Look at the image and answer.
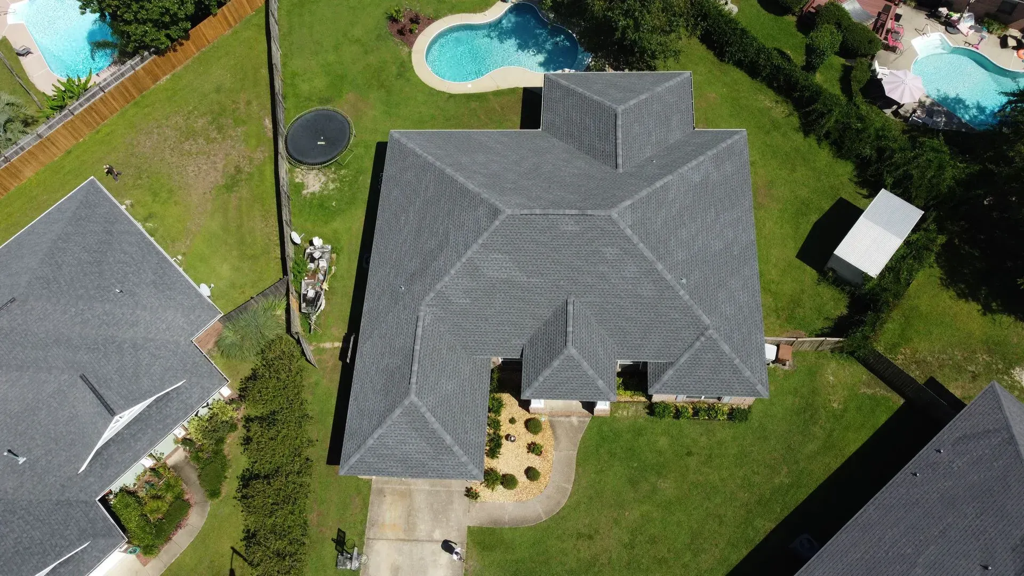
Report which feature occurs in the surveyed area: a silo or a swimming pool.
swimming pool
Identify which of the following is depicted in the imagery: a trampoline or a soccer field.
trampoline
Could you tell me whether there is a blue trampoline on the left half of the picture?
No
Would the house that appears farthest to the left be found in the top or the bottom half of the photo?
bottom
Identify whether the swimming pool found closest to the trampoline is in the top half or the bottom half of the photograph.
top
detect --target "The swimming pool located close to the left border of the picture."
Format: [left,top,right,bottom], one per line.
[5,0,122,80]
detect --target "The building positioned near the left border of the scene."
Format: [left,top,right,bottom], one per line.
[0,177,243,576]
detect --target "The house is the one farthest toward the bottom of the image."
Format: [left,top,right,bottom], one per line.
[794,382,1024,576]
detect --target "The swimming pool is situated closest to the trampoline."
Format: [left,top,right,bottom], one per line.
[424,0,592,83]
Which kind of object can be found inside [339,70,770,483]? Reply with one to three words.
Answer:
house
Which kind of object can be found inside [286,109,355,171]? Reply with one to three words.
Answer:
trampoline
